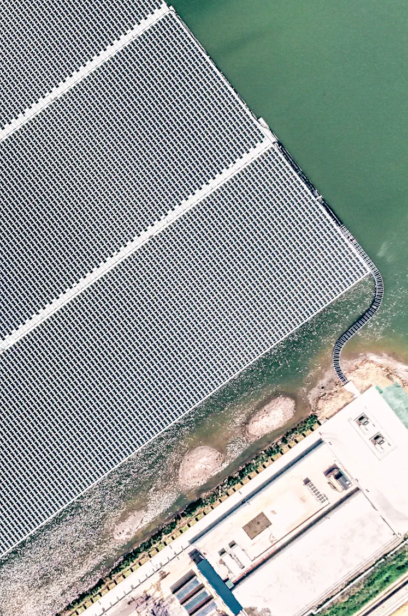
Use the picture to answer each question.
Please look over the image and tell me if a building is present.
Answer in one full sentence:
Yes, a building can be made out from above.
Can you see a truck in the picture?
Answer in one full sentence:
No, I can see no truck in this picture.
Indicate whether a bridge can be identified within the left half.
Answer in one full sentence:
No, I see no bridge within the left half.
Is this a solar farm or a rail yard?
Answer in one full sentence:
This looks like a solar farm.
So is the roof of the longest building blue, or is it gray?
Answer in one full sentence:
The roof of the longest building looks blue in the image.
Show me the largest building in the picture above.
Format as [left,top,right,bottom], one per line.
[194,558,244,615]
